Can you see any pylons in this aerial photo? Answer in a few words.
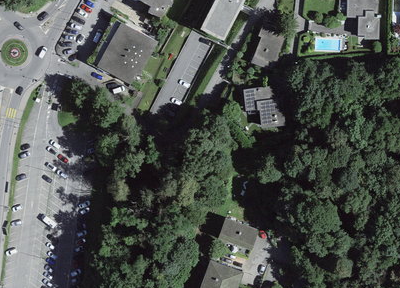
No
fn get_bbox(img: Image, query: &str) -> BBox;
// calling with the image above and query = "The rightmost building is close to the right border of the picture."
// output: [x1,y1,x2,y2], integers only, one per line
[346,0,380,40]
